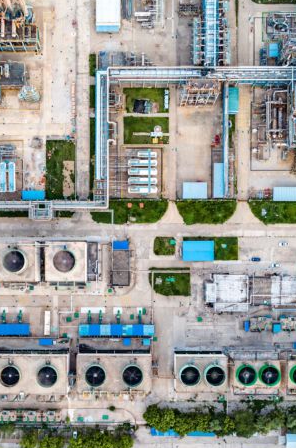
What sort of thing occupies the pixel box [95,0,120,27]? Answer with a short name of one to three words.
building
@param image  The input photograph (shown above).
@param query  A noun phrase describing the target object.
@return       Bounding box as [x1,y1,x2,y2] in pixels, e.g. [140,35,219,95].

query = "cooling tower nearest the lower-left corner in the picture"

[0,351,69,395]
